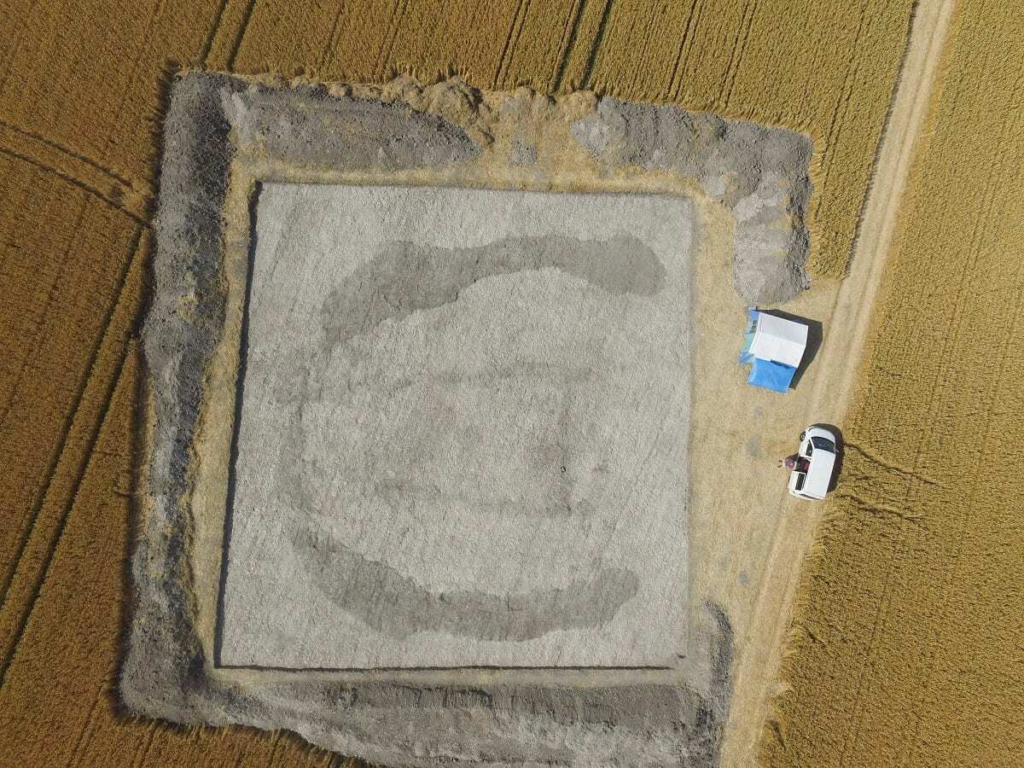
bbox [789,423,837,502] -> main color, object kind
white van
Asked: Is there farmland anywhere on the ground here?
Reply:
Yes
